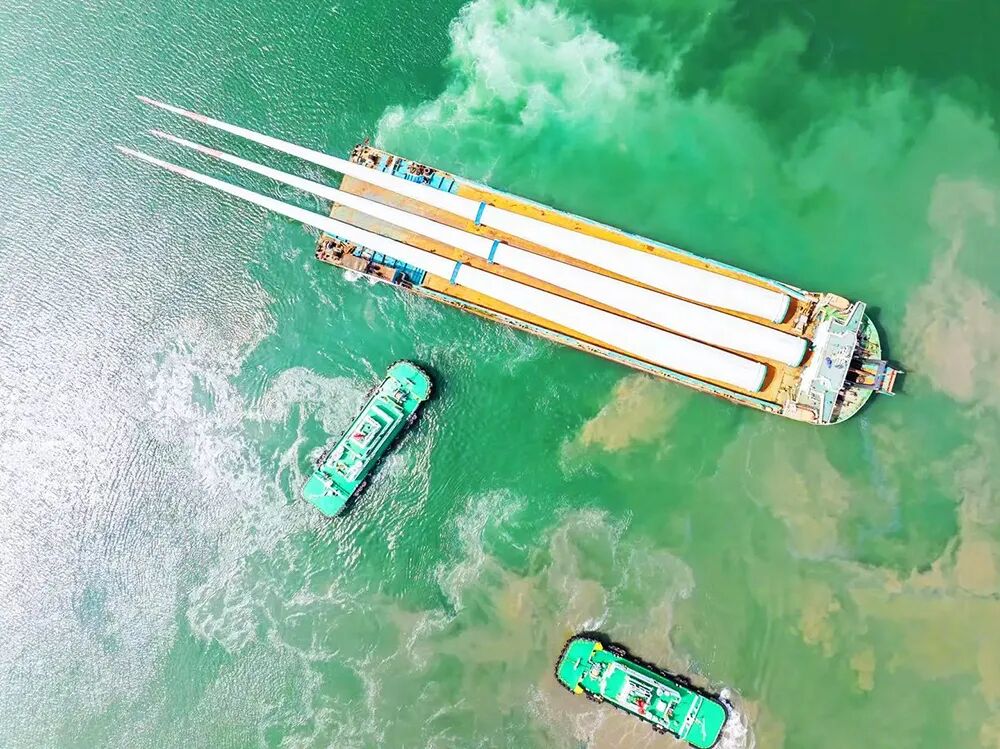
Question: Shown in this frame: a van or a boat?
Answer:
boat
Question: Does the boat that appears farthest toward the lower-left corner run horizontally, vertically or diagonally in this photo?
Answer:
diagonally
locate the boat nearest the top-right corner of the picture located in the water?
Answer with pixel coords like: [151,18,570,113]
[824,295,848,308]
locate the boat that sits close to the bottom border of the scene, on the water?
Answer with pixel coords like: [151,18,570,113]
[555,631,726,746]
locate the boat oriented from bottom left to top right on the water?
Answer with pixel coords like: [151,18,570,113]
[303,356,438,515]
